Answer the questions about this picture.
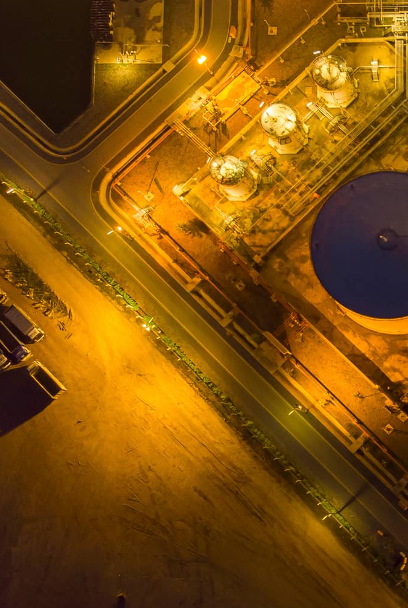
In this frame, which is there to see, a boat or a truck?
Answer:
truck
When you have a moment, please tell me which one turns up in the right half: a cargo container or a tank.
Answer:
tank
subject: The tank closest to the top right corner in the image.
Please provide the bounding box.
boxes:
[311,50,358,111]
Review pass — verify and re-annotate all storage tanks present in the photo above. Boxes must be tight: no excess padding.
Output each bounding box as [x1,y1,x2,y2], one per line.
[309,171,408,339]
[203,151,263,205]
[311,50,358,111]
[255,100,310,156]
